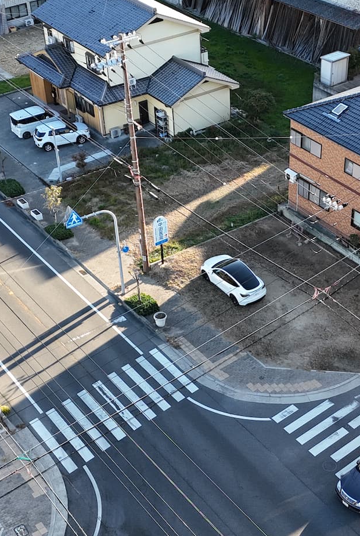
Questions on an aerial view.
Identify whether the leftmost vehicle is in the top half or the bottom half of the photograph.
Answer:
top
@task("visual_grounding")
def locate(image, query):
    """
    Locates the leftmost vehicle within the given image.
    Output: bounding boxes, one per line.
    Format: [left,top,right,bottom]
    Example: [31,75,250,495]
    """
[11,107,56,135]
